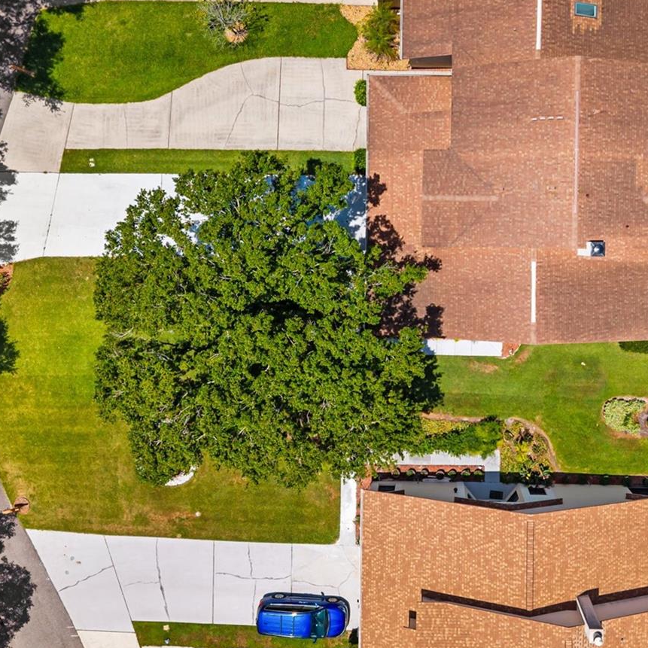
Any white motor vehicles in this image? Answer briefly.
No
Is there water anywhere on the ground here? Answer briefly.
No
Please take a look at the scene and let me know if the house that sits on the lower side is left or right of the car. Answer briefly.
right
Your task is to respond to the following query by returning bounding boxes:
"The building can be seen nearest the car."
[360,481,648,648]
